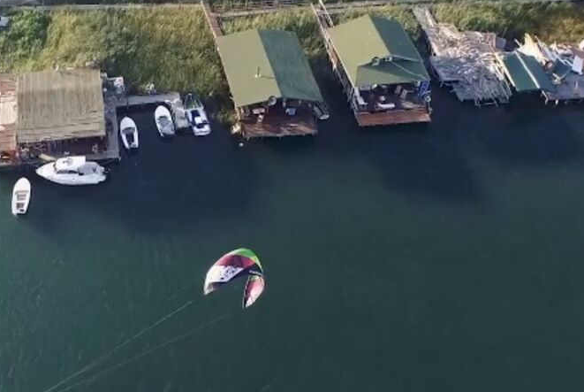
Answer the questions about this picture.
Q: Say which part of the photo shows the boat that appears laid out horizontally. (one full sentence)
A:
The boat that appears laid out horizontally is in the left part of the image.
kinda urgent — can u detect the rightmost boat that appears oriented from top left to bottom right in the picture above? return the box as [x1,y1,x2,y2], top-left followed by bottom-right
[315,101,331,119]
